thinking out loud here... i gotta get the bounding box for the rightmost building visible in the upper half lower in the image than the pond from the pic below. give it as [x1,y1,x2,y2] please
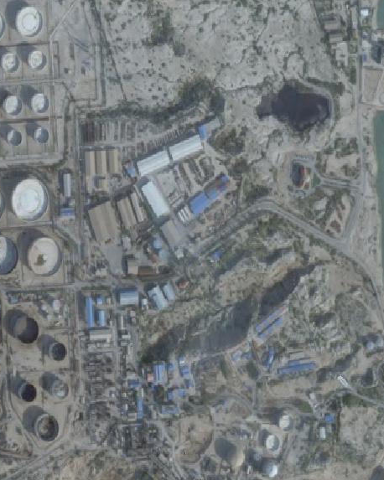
[294,162,310,187]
